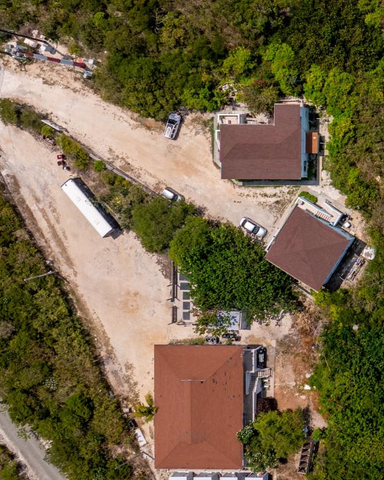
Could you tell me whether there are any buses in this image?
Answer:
Yes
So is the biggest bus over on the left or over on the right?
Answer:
left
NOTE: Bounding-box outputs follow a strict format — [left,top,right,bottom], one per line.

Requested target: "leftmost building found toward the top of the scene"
[216,100,308,179]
